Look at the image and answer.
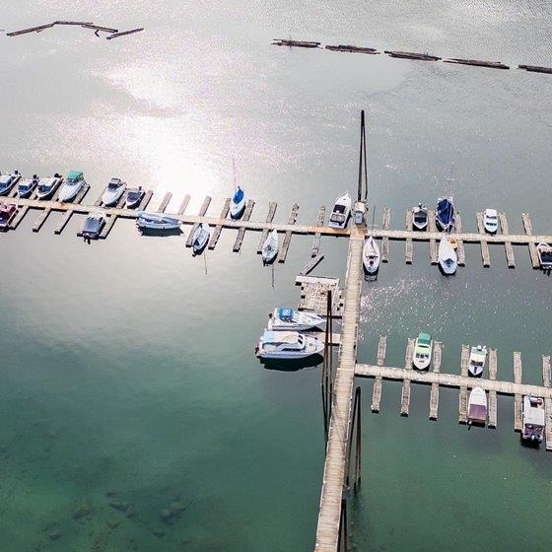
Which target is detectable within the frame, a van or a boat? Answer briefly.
boat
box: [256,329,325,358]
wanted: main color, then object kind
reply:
white boat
